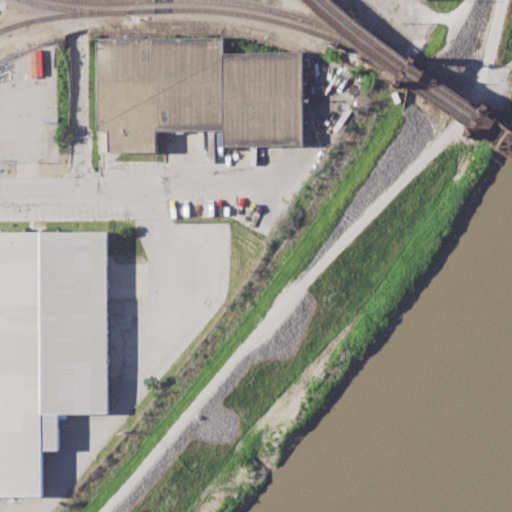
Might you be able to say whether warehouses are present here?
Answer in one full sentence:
Yes, a warehouse can be made out from above.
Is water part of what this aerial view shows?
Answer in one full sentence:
Yes, water shows up in the scene.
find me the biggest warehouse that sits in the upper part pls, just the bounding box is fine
[96,36,304,154]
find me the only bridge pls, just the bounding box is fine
[300,0,512,162]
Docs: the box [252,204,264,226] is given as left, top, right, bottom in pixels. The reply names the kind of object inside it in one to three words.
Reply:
vehicle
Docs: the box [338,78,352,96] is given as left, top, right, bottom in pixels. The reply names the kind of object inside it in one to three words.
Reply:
vehicle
